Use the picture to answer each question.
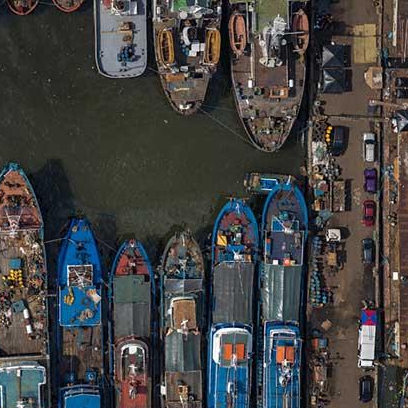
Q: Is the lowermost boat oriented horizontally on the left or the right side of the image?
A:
right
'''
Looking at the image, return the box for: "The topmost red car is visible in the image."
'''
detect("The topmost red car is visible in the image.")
[363,200,376,226]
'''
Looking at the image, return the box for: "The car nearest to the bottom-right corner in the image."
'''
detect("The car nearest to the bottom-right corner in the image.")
[359,376,374,403]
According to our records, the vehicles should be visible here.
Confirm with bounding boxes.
[359,316,379,370]
[363,200,376,226]
[364,167,378,193]
[364,132,377,161]
[362,239,375,264]
[333,126,348,156]
[359,376,374,403]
